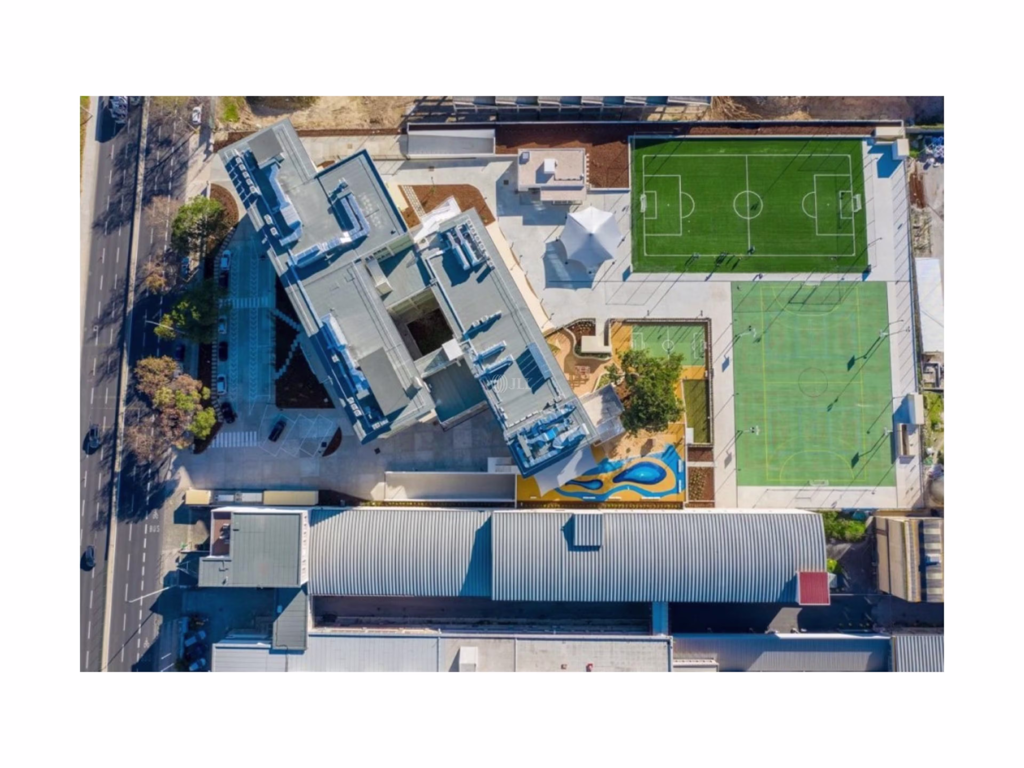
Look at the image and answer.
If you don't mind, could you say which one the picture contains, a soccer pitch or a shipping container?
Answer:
soccer pitch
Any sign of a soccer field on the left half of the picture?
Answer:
No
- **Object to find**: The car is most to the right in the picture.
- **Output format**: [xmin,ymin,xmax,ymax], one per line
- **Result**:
[269,421,287,442]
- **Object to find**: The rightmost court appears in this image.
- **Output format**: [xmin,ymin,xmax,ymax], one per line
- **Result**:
[731,281,896,487]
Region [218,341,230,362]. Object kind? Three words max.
vehicle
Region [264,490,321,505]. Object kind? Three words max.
building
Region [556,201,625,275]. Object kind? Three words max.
tent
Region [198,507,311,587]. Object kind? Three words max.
building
